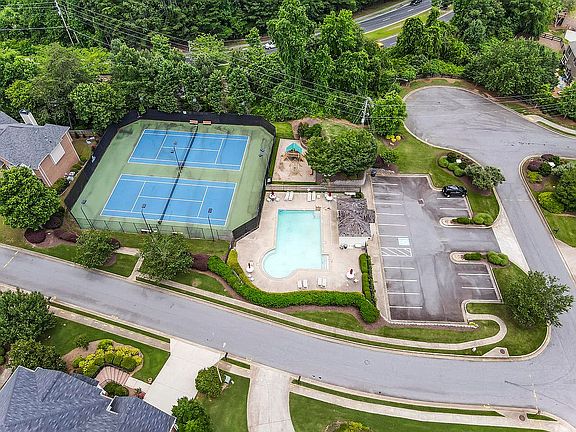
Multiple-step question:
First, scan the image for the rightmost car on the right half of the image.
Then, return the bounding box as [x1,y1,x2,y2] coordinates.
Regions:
[443,184,469,198]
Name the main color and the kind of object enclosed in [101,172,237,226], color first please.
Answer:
blue tennis court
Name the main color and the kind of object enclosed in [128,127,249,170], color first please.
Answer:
blue tennis court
